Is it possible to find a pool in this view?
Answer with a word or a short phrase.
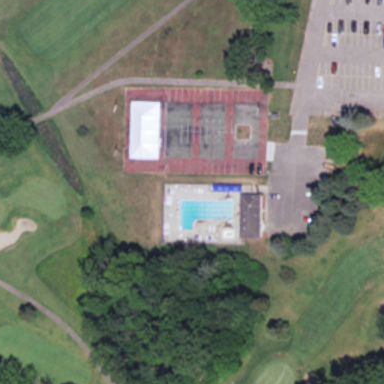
Yes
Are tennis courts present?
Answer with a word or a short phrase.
Yes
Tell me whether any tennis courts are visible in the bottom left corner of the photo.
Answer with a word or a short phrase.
No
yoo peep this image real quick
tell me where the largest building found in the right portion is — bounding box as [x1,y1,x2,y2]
[240,194,263,238]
